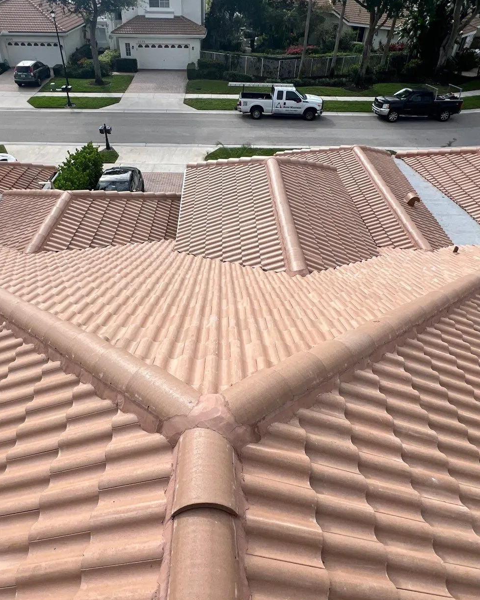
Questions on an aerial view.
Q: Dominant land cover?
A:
buildings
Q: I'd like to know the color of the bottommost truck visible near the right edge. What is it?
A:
black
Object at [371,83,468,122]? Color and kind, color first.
black truck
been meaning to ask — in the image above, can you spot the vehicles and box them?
[9,58,46,86]
[371,83,468,122]
[0,154,40,163]
[100,163,144,192]
[236,78,330,121]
